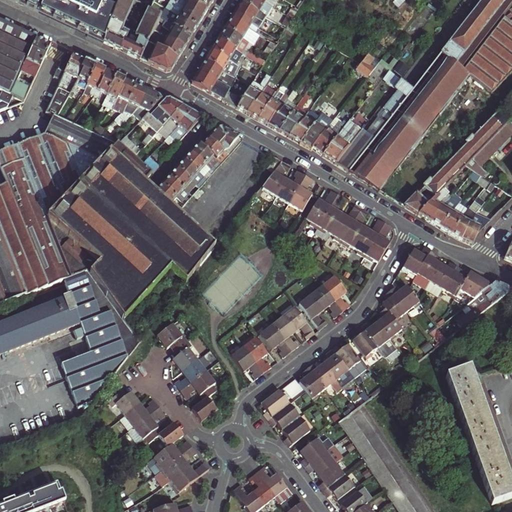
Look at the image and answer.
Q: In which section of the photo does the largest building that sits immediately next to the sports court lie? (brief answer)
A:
left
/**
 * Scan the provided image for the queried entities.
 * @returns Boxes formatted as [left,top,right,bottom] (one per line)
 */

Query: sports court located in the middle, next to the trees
[204,255,262,316]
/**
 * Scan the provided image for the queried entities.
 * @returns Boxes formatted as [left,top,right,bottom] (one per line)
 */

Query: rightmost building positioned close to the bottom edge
[446,360,512,505]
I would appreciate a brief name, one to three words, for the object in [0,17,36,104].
building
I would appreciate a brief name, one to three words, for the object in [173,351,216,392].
house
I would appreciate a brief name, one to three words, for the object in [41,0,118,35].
building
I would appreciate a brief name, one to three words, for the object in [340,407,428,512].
shed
